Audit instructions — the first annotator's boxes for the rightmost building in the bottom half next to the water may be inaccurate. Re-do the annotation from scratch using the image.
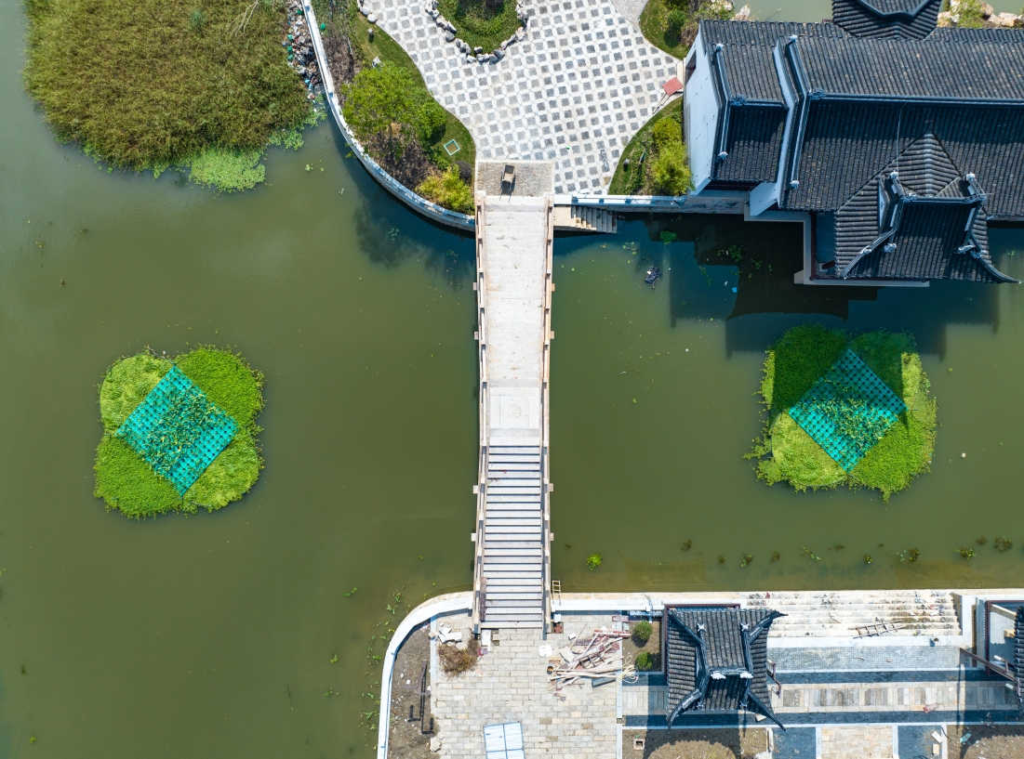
[969,600,1024,730]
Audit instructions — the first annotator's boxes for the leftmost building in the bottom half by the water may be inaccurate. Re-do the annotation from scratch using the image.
[661,598,789,734]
